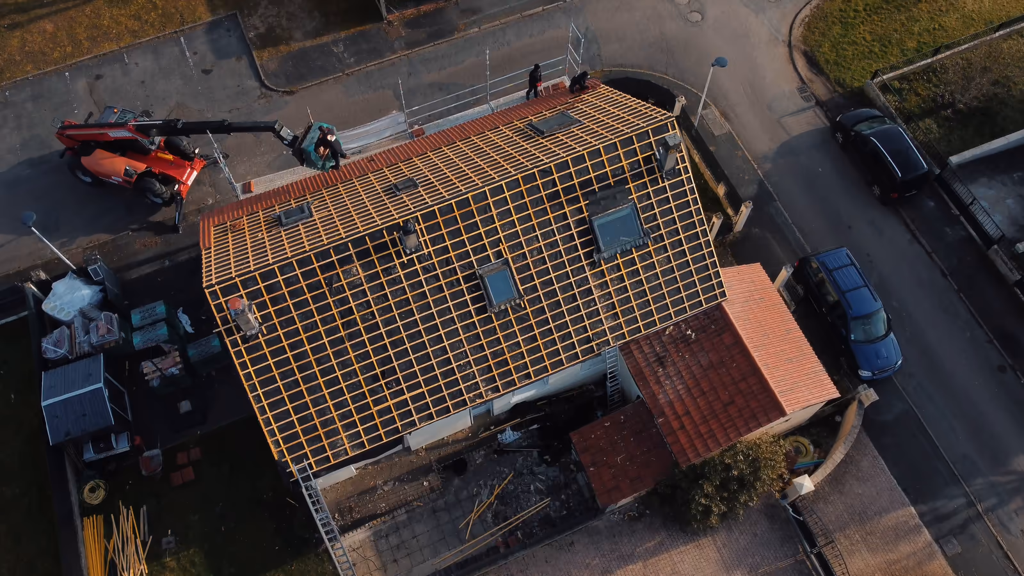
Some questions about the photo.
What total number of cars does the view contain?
2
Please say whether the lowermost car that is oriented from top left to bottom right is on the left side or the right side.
right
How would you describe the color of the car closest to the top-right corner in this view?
black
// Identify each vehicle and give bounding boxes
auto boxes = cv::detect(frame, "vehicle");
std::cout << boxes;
[832,99,939,206]
[54,97,355,231]
[794,246,905,380]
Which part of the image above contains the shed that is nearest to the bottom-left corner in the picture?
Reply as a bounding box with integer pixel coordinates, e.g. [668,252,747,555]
[40,352,132,452]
